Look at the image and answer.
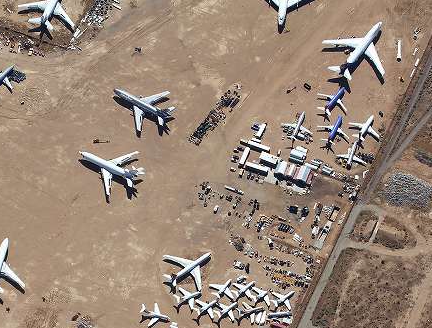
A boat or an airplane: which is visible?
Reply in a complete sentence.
Looking from above, you can make out an airplane.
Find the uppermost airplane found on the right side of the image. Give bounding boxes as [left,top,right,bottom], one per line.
[277,0,297,26]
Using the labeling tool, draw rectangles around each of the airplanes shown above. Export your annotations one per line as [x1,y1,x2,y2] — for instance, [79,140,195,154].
[234,283,255,301]
[0,239,25,292]
[177,288,202,312]
[195,300,218,321]
[0,66,15,91]
[349,116,380,144]
[273,292,295,311]
[317,116,350,148]
[277,0,297,26]
[210,280,234,301]
[239,304,263,324]
[319,88,348,116]
[142,301,170,326]
[216,303,238,322]
[323,23,386,81]
[250,288,271,307]
[80,148,145,199]
[282,112,312,140]
[166,252,212,292]
[114,90,178,134]
[336,142,366,169]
